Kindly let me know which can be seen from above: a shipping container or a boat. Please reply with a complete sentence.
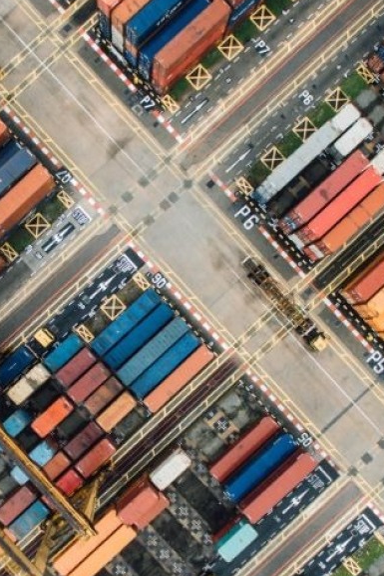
There is a shipping container in the scene.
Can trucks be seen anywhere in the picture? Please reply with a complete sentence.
Yes, there's a truck down there.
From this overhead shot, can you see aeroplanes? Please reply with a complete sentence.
No, the frame has no aeroplane in it.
